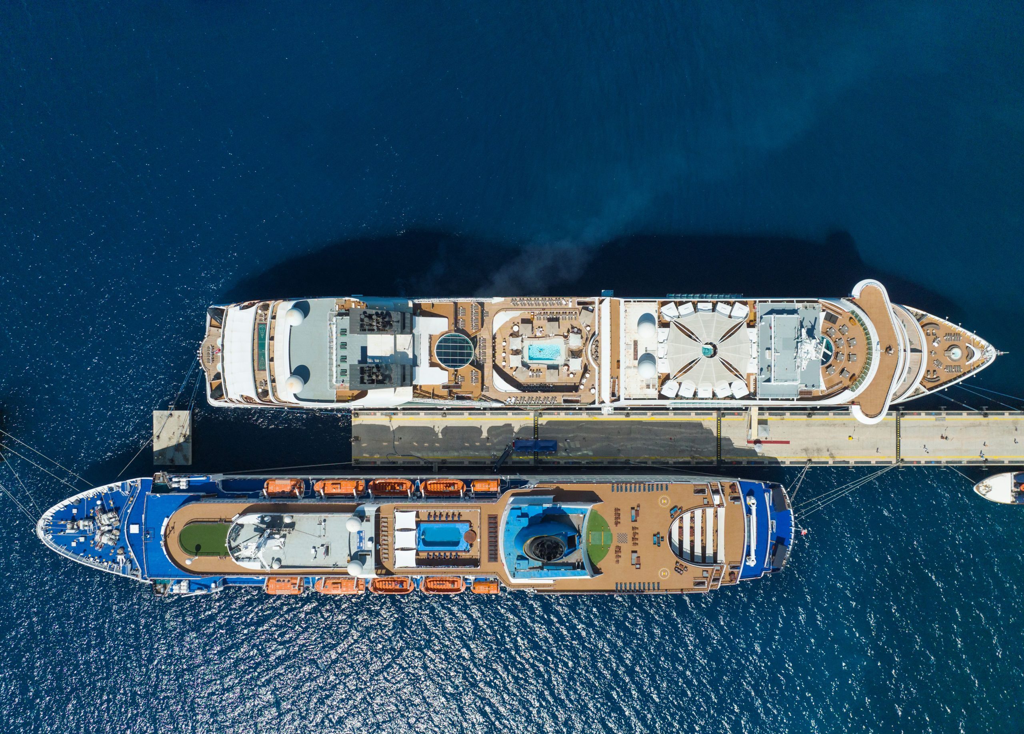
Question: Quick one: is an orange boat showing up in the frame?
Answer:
Yes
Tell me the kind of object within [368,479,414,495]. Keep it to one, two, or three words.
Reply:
boat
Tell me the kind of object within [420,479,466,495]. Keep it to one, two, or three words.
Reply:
boat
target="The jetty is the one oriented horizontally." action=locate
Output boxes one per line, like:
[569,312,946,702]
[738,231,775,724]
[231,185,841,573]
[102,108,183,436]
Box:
[352,406,1024,470]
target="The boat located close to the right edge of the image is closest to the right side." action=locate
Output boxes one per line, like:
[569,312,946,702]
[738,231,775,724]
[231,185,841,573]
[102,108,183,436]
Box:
[970,471,1024,505]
